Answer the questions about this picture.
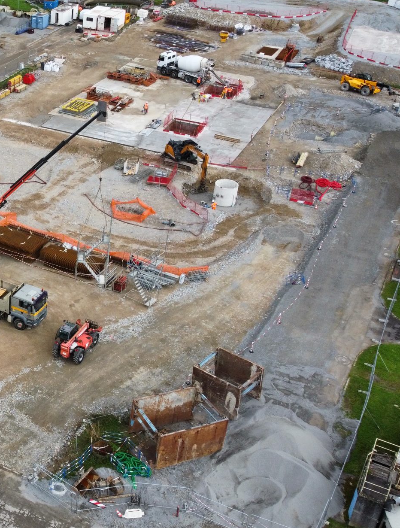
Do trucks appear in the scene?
Yes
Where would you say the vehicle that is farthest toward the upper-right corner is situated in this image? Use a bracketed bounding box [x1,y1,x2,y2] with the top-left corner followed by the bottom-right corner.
[342,72,391,101]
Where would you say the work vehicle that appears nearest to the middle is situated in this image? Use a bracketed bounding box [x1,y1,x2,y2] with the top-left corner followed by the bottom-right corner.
[160,141,214,180]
